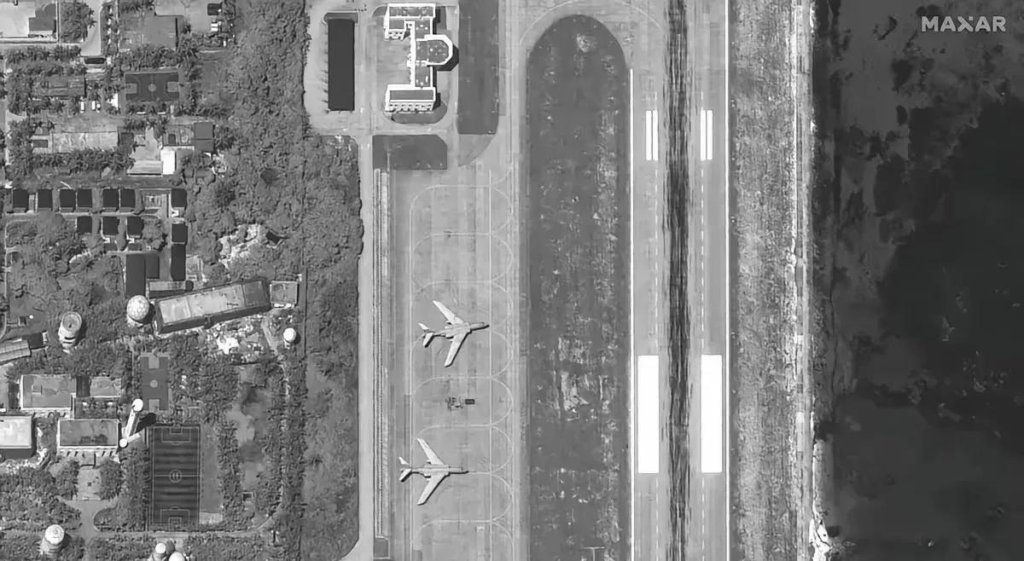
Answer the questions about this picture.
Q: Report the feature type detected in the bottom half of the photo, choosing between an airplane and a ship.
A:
airplane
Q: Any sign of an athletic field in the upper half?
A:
No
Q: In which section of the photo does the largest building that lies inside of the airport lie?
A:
top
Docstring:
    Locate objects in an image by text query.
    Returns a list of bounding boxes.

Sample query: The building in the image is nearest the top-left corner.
[28,3,55,33]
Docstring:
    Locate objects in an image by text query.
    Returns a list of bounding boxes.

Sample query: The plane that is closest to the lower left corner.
[398,438,468,505]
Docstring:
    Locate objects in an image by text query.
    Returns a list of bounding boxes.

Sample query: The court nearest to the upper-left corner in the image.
[124,72,180,101]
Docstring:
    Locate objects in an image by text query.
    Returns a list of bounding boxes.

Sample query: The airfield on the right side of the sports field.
[305,0,730,561]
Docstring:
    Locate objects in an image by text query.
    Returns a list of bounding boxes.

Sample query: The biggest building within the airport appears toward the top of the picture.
[386,3,453,113]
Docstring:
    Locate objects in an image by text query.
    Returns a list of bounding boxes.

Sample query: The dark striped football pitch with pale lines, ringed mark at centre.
[147,424,199,529]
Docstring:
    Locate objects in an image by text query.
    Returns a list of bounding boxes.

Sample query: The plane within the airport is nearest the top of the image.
[418,302,488,367]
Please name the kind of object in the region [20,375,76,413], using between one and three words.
building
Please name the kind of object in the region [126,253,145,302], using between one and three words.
house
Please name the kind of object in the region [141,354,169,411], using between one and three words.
basketball court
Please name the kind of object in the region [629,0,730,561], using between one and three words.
runway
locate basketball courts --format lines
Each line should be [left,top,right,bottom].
[141,354,169,411]
[124,72,180,101]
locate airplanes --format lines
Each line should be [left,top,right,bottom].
[398,438,468,505]
[418,302,488,367]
